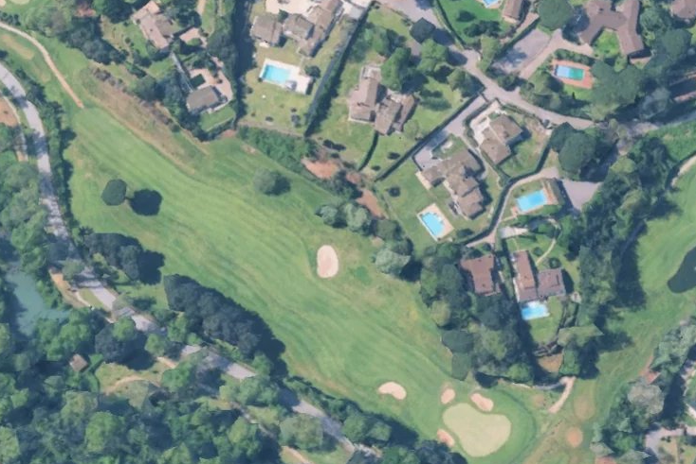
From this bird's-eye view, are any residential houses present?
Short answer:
Yes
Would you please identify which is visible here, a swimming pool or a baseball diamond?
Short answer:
swimming pool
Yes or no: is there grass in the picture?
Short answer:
Yes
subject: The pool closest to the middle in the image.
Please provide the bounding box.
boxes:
[417,204,454,240]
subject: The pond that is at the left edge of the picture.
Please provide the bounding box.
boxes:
[1,265,74,340]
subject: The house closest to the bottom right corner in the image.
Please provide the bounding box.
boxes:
[514,250,566,303]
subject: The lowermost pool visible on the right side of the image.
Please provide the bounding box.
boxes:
[520,301,551,321]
